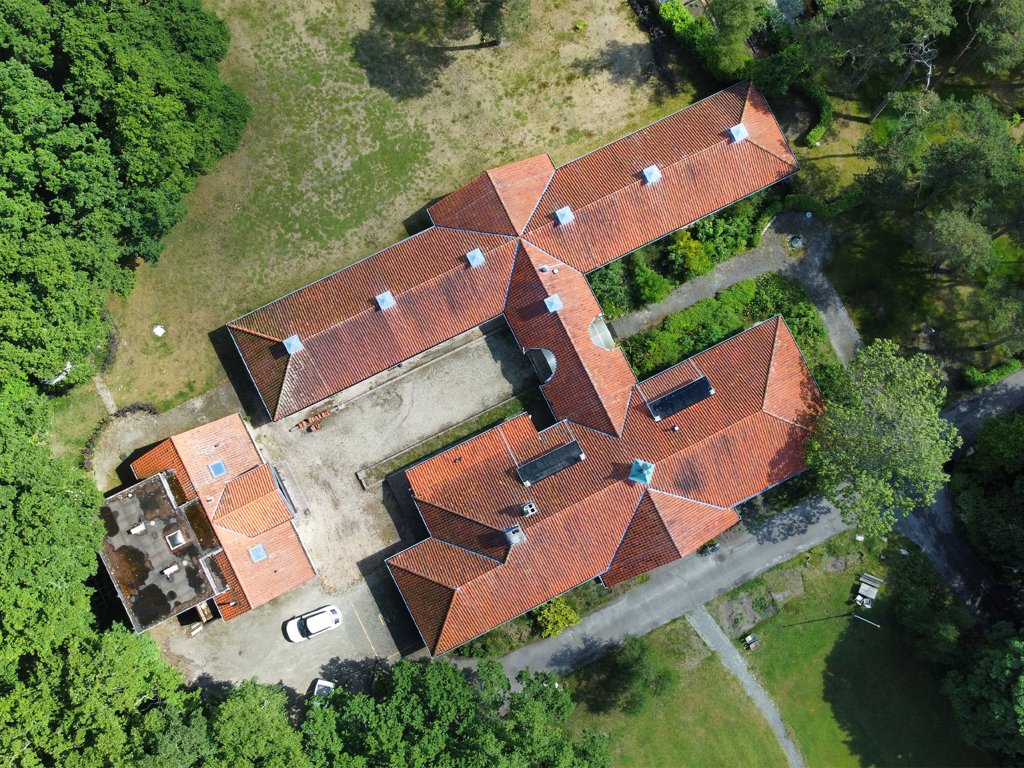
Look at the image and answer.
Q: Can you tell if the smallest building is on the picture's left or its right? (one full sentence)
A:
The smallest building is on the left side of the image.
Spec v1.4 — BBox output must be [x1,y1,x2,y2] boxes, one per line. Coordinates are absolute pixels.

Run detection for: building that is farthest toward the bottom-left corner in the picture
[84,411,318,635]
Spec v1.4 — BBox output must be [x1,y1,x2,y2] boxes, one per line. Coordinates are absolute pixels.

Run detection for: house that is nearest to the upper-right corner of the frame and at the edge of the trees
[226,77,844,658]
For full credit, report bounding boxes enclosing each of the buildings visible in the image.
[84,411,318,635]
[226,77,844,658]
